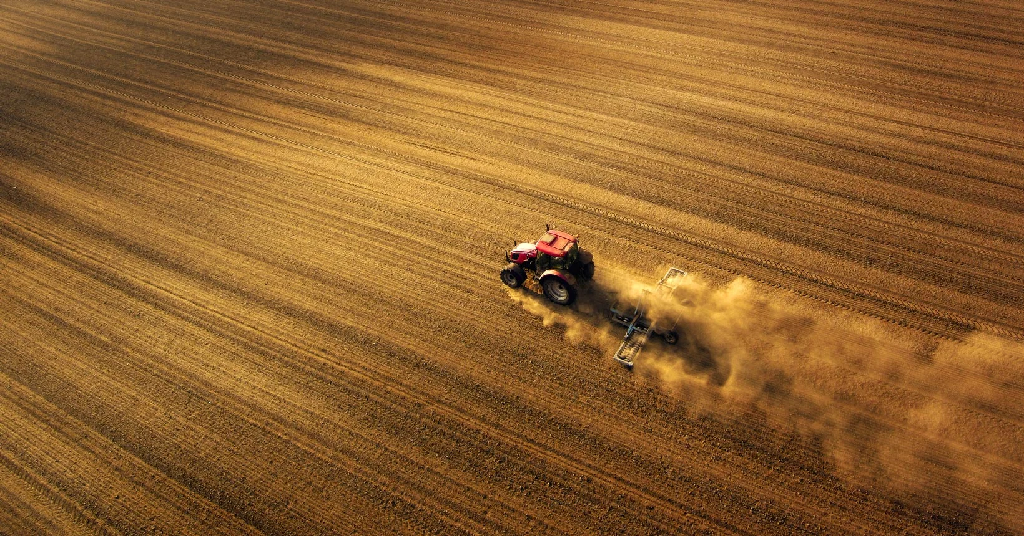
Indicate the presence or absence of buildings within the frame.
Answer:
No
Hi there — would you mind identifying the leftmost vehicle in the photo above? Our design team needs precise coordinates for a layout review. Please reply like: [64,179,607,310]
[501,223,593,305]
